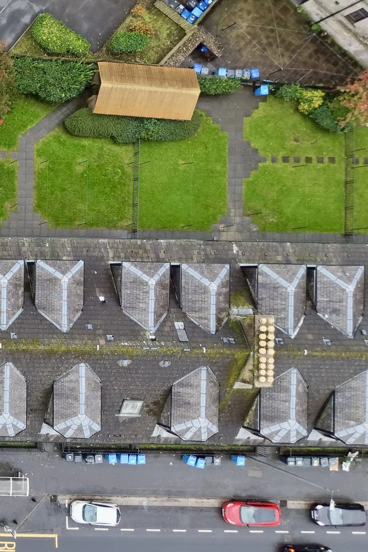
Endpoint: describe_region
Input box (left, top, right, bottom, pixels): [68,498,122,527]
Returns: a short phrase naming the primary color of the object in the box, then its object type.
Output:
white car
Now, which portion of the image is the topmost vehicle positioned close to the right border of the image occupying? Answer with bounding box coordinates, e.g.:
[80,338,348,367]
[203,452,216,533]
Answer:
[307,501,368,529]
